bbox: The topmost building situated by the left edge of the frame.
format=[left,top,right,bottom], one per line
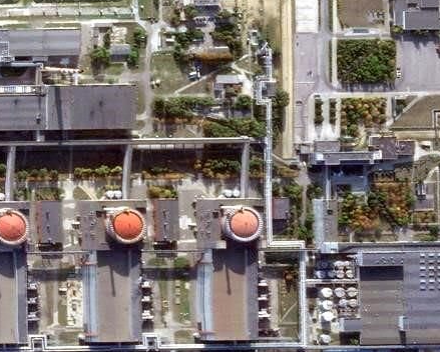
[0,30,82,57]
